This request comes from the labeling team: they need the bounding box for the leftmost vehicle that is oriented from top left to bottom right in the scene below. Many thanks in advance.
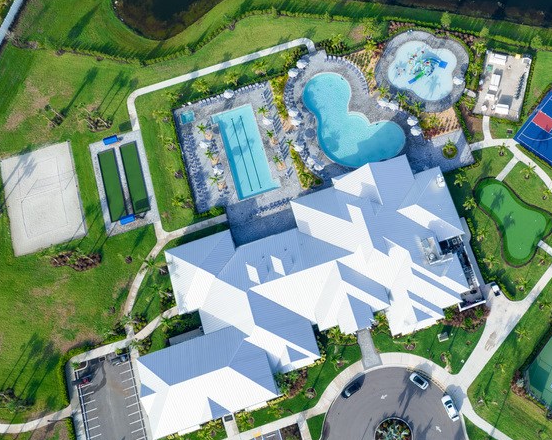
[408,372,430,390]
